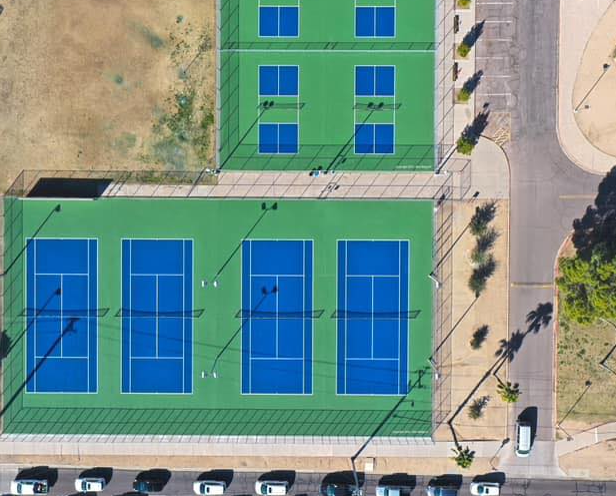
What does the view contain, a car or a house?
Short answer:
car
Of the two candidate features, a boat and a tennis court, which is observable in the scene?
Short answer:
tennis court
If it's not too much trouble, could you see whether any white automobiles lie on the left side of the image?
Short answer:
Yes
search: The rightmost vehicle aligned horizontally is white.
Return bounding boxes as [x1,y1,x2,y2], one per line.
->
[469,480,502,496]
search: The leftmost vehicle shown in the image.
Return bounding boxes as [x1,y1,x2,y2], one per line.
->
[11,476,49,493]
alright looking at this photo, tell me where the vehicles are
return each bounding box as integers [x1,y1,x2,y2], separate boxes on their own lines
[11,476,49,493]
[513,416,532,453]
[426,481,458,496]
[194,478,225,495]
[375,482,414,496]
[469,480,502,496]
[322,481,353,496]
[76,475,107,492]
[134,476,165,492]
[257,478,288,496]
